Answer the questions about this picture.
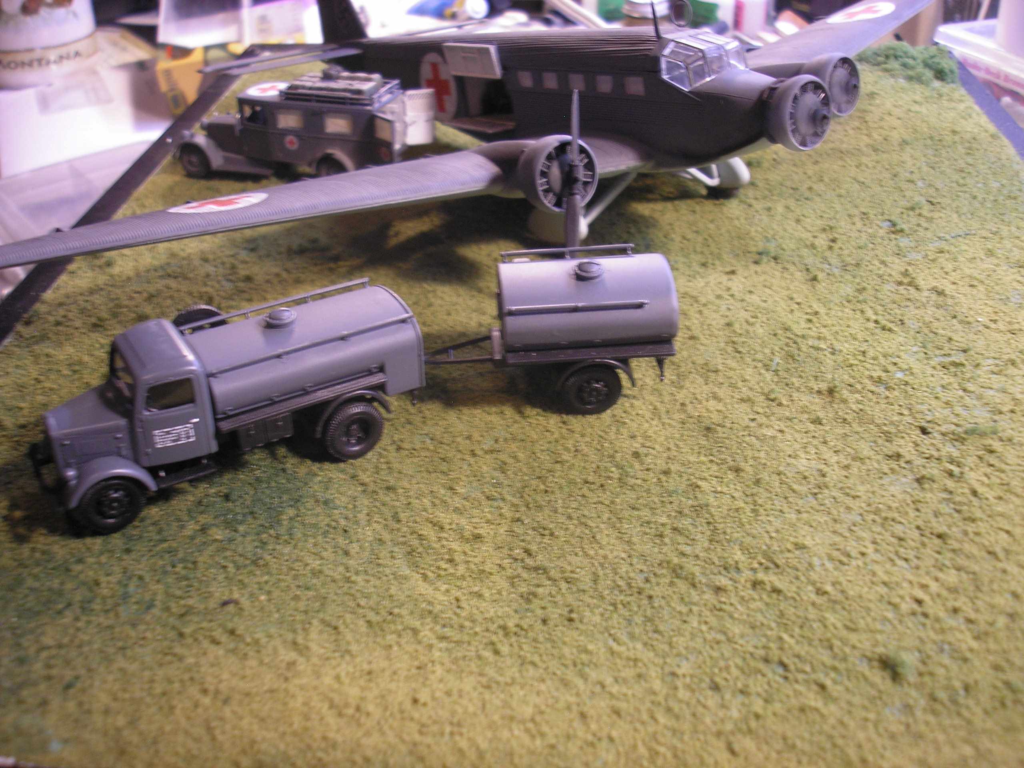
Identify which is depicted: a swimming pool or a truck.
truck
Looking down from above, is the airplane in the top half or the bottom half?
top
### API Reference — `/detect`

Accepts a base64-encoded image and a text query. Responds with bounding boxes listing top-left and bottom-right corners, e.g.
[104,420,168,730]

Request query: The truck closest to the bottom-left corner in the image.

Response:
[22,278,424,531]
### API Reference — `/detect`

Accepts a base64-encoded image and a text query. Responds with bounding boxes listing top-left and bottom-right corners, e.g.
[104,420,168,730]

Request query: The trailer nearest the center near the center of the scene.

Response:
[423,245,679,414]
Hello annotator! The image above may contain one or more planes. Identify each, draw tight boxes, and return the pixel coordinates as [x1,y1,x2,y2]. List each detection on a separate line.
[0,0,940,271]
